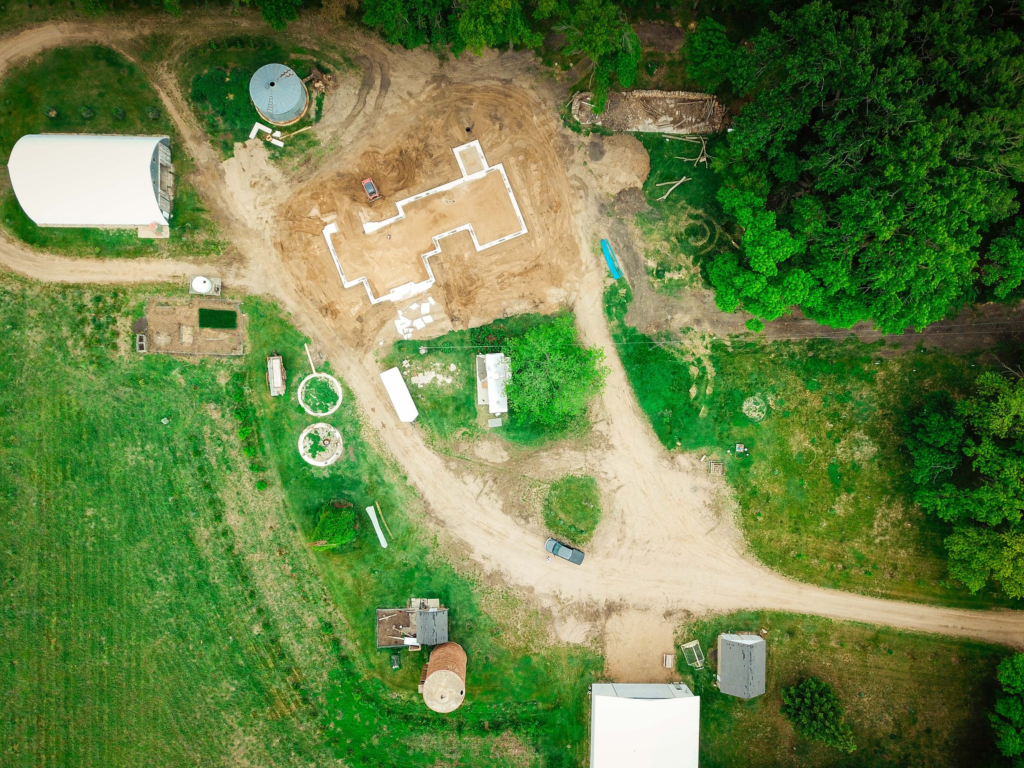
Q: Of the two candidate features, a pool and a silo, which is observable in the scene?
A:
silo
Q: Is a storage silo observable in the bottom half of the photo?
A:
Yes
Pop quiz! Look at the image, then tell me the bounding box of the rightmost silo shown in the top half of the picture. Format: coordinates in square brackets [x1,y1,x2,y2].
[250,64,310,125]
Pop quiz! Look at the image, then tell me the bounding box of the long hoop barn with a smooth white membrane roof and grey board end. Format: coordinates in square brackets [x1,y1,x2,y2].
[8,128,175,228]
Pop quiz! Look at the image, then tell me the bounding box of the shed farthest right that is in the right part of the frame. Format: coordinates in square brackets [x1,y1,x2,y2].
[716,635,766,699]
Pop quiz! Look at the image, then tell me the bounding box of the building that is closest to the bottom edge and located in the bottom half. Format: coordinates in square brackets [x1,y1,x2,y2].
[591,686,700,768]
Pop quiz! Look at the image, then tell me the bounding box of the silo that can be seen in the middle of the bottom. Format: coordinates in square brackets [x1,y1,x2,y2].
[416,641,467,714]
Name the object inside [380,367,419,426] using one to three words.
trailer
